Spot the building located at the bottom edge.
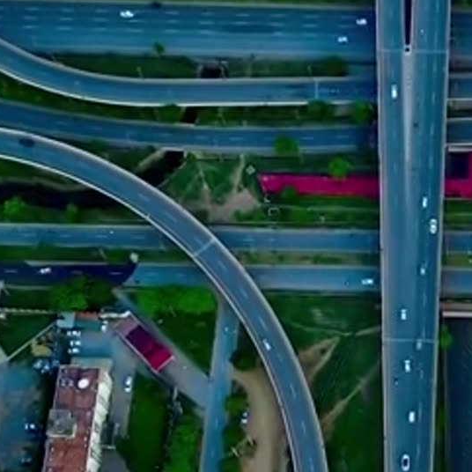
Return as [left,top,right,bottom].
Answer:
[42,358,113,472]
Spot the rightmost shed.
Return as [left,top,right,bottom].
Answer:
[125,322,175,372]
